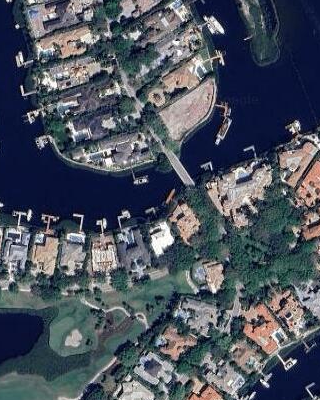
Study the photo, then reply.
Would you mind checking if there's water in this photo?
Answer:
Yes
